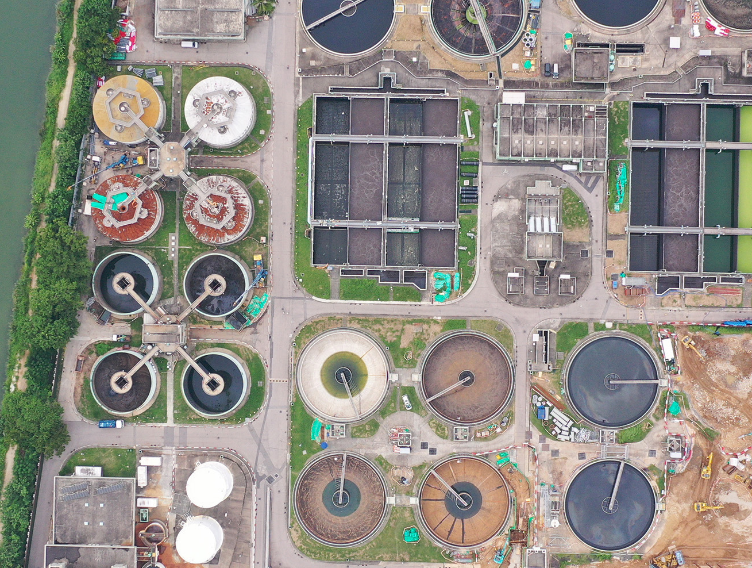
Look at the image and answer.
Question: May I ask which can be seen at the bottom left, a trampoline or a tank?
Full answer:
There is a tank at the bottom left.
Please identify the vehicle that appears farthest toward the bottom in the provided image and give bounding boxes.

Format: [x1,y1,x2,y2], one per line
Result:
[493,537,508,562]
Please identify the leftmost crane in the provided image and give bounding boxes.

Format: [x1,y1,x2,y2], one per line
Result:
[67,154,144,190]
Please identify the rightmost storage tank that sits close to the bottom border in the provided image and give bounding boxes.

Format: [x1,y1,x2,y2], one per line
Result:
[559,453,665,556]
